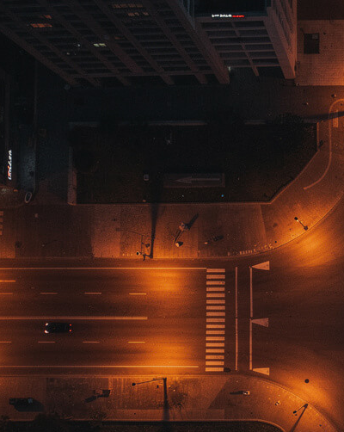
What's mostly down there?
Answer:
paved ground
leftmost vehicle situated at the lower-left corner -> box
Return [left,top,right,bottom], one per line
[6,397,32,409]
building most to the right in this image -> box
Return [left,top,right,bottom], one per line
[184,0,296,77]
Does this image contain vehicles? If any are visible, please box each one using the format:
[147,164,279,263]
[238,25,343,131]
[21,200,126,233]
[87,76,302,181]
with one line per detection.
[6,397,32,409]
[42,321,70,335]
